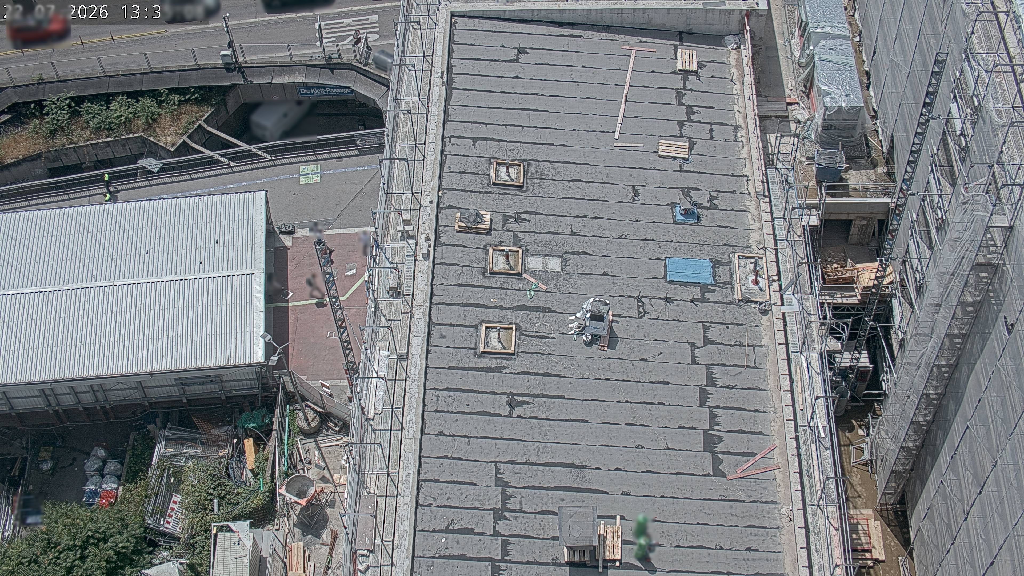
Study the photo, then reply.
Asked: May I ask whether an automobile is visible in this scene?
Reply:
Yes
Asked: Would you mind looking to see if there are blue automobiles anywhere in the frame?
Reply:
No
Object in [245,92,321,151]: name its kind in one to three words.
van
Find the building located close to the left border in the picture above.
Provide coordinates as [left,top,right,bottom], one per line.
[0,189,273,438]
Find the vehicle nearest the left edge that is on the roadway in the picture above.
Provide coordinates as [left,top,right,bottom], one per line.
[2,12,71,49]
